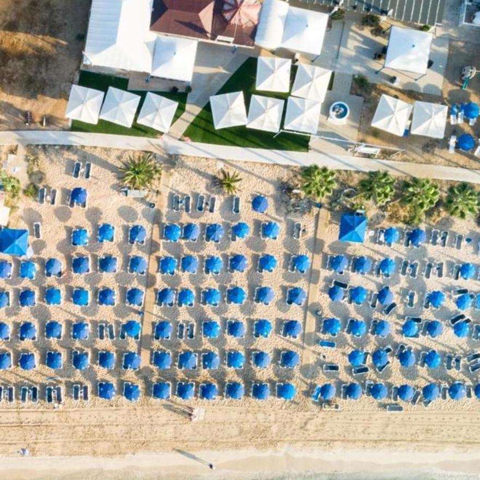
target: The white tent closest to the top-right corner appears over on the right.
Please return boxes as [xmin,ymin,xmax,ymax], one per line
[373,26,433,82]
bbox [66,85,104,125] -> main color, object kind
white umbrella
